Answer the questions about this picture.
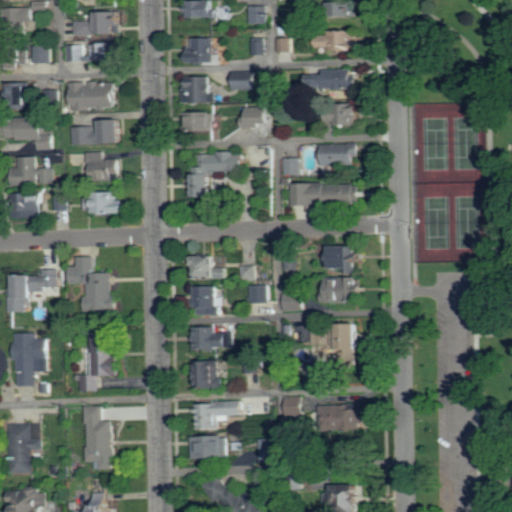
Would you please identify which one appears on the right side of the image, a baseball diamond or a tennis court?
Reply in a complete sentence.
The feature located on the right side of the image is a tennis court.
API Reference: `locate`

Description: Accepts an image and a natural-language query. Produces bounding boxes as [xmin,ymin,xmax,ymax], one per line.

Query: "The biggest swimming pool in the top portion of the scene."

[303,148,316,172]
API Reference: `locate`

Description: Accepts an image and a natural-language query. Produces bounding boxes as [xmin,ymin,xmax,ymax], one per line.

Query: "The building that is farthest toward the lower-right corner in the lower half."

[322,484,360,512]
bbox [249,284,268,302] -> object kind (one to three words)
building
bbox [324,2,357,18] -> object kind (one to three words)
house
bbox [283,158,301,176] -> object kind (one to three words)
building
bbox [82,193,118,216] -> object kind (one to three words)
house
